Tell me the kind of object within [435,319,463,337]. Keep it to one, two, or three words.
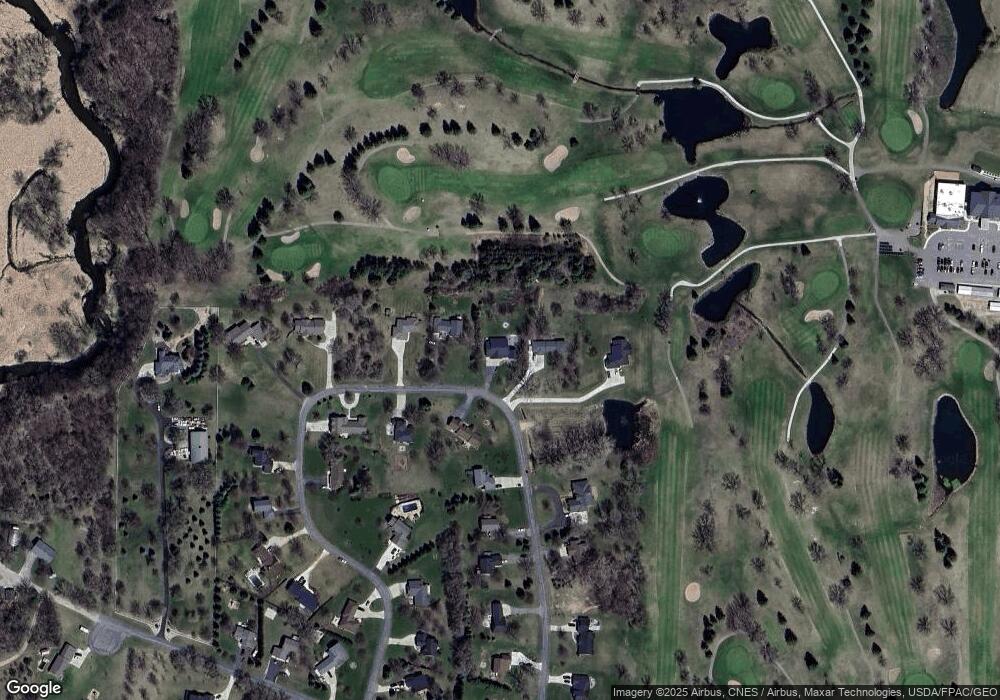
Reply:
house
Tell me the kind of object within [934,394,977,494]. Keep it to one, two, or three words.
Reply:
pond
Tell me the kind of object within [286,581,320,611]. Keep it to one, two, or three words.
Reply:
house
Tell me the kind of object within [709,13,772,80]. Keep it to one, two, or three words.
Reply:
pond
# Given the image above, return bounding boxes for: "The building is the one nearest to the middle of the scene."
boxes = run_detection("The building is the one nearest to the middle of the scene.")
[484,337,520,359]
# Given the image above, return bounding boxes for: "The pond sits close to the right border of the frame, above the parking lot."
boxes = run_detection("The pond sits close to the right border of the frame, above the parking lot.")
[939,0,990,109]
